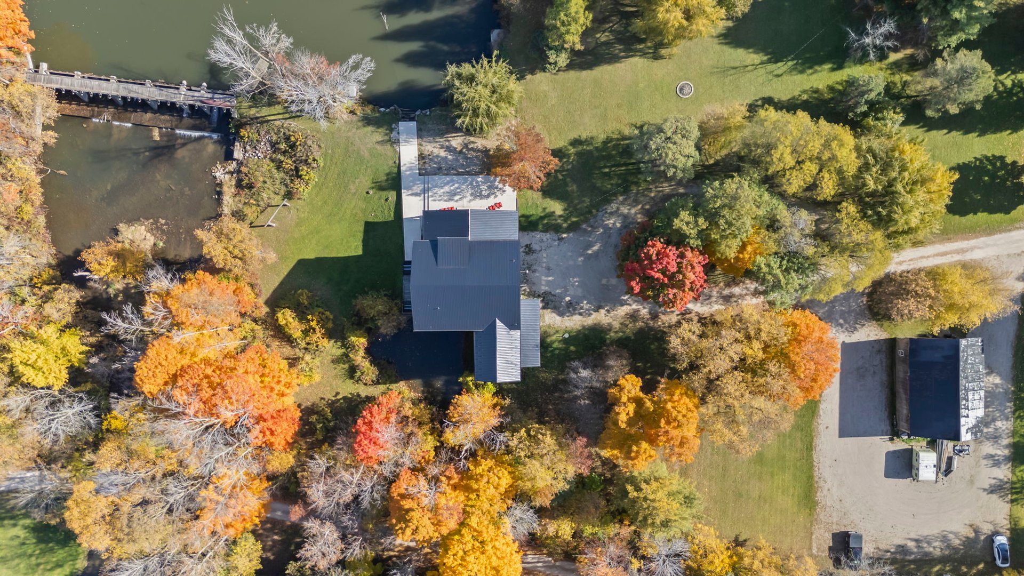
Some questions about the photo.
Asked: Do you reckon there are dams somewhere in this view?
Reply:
Yes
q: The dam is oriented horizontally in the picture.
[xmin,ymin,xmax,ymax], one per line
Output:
[24,65,243,158]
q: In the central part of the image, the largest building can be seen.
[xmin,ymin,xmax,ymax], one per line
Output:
[408,207,540,383]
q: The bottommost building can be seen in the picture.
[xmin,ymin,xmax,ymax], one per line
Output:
[896,336,984,442]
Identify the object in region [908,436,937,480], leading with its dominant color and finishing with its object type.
white vehicle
